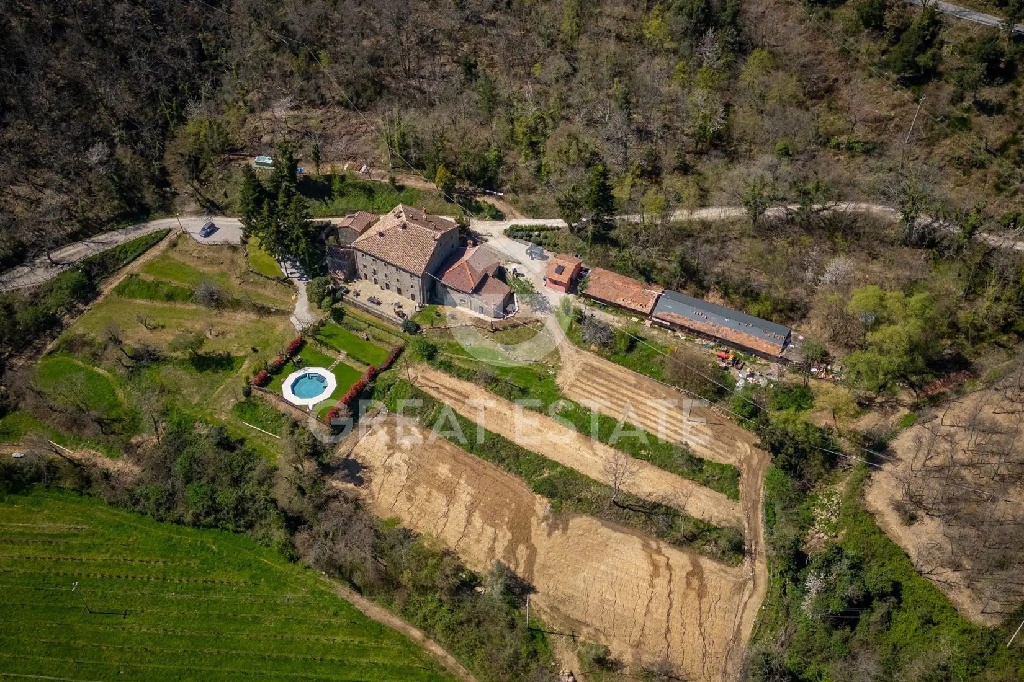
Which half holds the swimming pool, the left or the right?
left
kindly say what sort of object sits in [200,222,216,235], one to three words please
vehicle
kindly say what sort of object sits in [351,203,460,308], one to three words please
house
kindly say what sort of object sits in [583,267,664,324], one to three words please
barn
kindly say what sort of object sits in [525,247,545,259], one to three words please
vehicle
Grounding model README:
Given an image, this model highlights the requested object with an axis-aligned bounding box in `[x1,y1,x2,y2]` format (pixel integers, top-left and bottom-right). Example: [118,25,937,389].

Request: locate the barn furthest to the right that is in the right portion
[650,289,791,367]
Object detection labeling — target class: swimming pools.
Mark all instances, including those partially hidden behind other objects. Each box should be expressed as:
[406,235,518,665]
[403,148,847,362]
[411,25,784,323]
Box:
[281,367,337,405]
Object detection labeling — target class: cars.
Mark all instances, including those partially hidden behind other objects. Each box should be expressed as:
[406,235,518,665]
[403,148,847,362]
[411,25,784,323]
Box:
[525,247,545,259]
[200,222,216,235]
